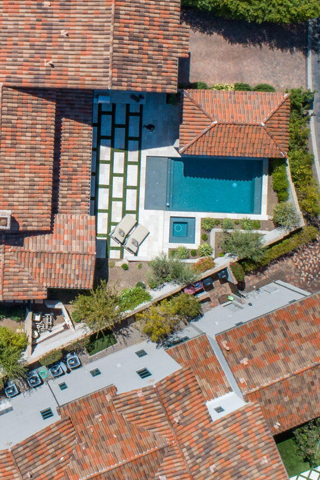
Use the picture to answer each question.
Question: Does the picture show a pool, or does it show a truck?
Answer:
pool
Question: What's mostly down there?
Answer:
buildings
